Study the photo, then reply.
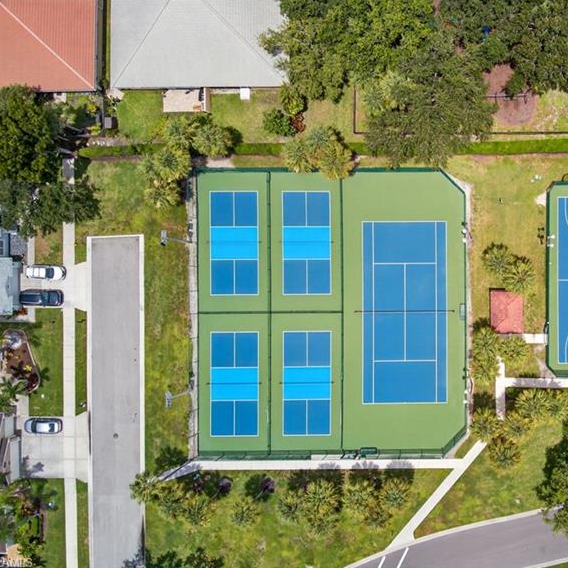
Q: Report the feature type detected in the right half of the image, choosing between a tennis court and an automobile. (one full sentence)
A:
There is a tennis court in the right half of the image.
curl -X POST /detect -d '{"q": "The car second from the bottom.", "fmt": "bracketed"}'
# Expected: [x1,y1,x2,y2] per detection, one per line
[19,288,62,307]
